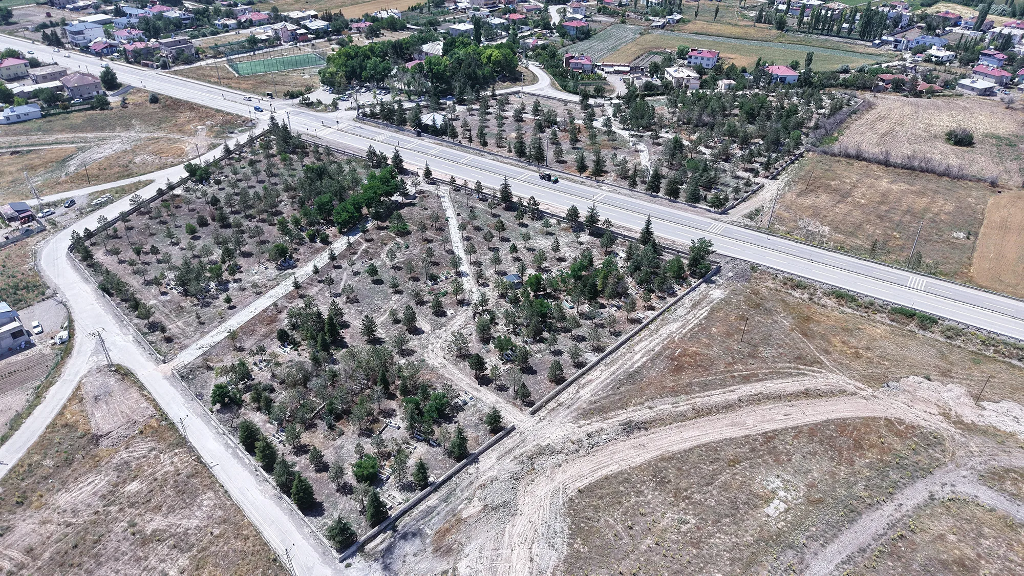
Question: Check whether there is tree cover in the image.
Yes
